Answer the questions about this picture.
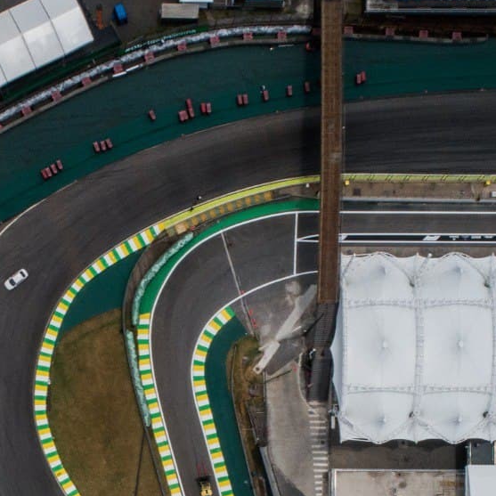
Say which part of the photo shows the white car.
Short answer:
left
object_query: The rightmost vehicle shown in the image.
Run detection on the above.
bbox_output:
[196,465,212,496]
